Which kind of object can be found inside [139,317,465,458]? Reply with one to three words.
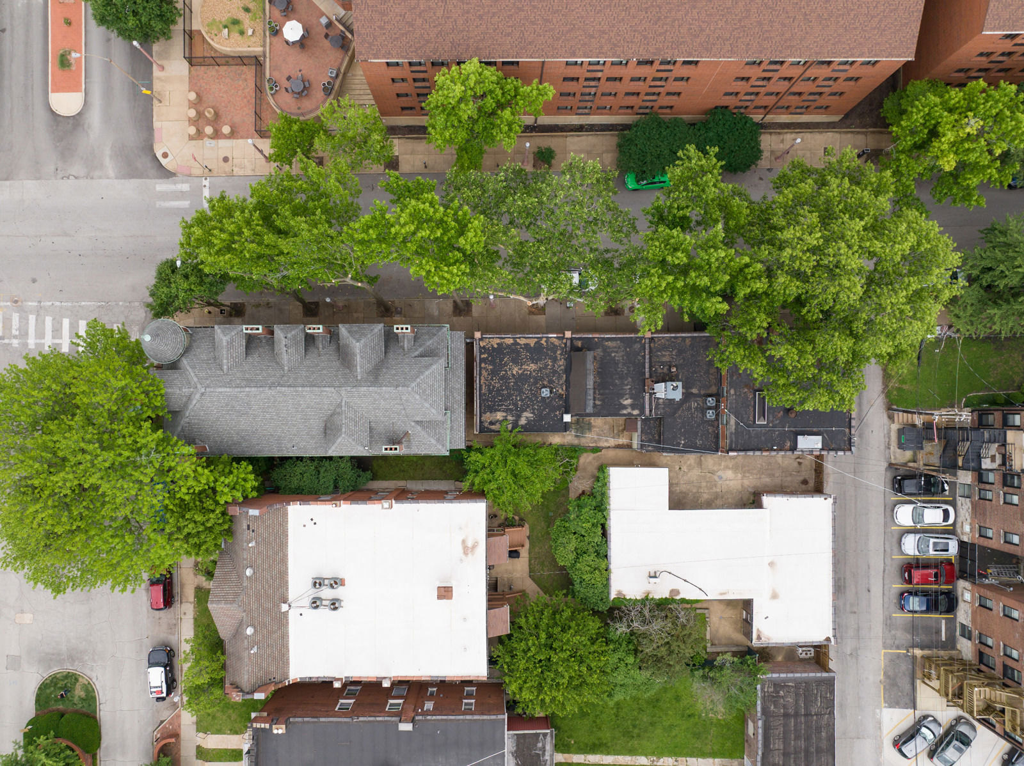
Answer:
house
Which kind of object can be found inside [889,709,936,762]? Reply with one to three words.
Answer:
car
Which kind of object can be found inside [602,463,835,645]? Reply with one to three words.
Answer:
building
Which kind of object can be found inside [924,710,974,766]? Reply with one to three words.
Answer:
car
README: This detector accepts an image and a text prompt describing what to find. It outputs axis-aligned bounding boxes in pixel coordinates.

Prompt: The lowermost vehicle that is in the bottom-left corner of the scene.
[146,644,178,702]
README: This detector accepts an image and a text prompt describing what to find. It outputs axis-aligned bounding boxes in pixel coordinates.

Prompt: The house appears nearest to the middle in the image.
[473,331,572,435]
